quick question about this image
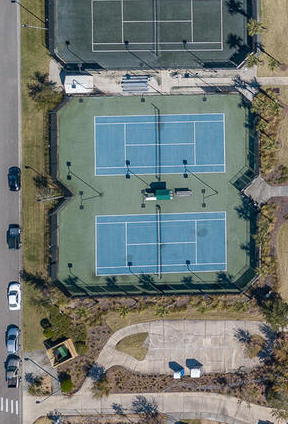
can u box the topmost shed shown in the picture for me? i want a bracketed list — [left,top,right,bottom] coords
[64,75,101,93]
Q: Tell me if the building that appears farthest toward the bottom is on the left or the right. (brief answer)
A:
left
